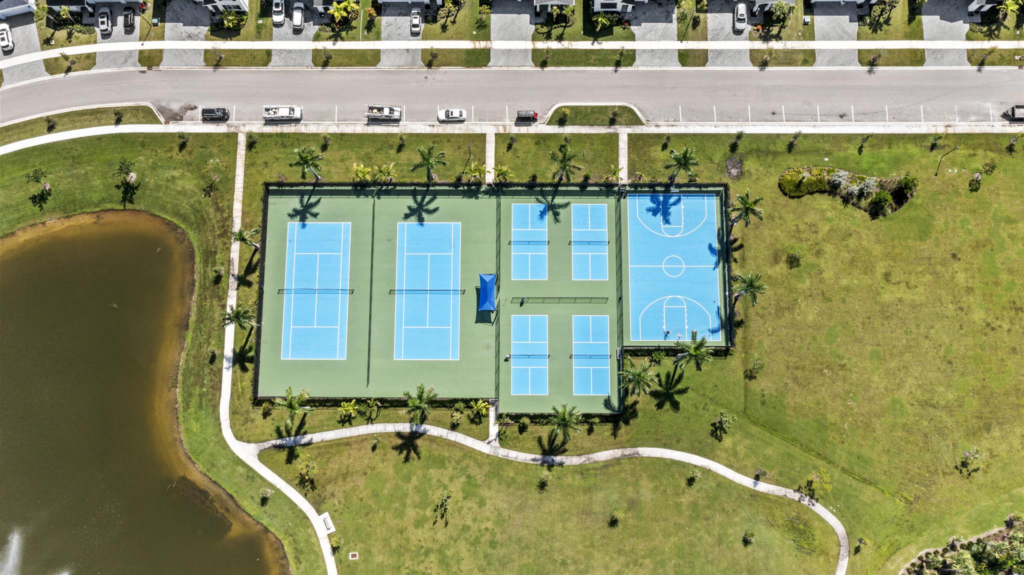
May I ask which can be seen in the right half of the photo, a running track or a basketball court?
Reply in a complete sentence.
The one visible in the right half of the photo is a basketball court.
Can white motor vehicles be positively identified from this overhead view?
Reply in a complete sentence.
Yes, this view includes a white motor vehicle.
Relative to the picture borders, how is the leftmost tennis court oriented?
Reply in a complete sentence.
The leftmost tennis court is laid out vertically.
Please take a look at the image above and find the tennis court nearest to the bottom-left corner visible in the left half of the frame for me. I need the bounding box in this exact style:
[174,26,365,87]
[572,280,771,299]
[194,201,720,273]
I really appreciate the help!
[281,222,351,360]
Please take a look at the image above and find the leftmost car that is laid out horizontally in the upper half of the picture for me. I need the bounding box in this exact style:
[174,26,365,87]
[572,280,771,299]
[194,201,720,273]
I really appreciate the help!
[200,107,229,121]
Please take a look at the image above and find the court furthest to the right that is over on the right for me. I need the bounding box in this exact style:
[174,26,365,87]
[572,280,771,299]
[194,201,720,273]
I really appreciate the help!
[627,194,721,341]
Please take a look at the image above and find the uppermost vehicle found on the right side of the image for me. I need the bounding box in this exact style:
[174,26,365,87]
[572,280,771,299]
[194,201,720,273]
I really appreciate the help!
[734,6,748,32]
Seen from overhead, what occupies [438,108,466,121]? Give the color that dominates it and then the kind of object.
white vehicle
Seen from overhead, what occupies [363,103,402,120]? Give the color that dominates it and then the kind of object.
white vehicle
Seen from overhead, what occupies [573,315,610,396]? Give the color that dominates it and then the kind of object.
blue sports court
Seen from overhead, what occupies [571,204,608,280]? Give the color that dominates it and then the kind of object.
blue sports court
